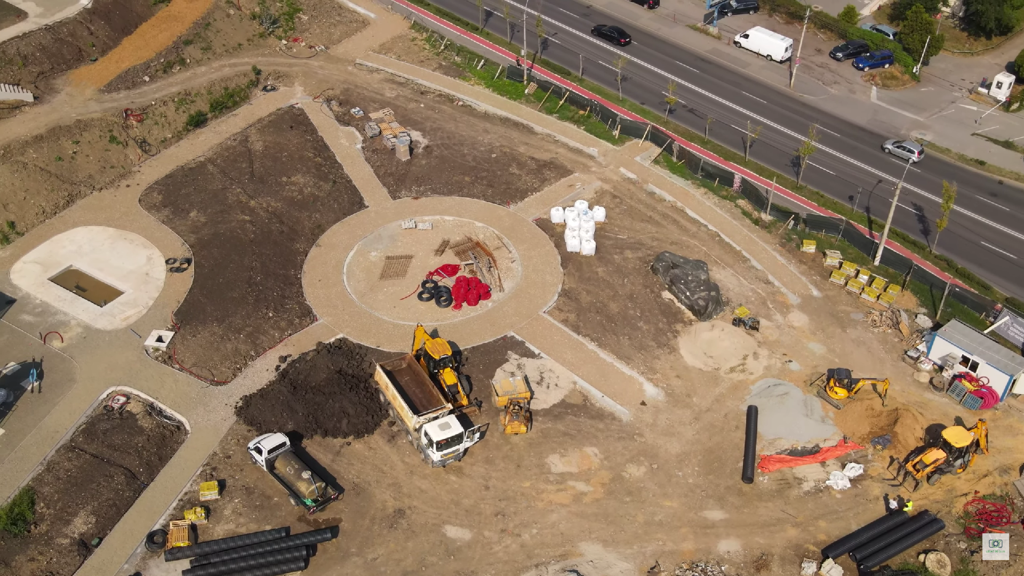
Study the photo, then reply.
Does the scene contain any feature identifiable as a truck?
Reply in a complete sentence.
Yes, there's a truck down there.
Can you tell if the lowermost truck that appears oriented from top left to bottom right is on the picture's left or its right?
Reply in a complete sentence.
The lowermost truck that appears oriented from top left to bottom right is on the left side of the image.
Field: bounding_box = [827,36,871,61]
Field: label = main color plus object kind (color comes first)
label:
black car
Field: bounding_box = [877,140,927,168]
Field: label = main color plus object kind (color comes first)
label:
gray car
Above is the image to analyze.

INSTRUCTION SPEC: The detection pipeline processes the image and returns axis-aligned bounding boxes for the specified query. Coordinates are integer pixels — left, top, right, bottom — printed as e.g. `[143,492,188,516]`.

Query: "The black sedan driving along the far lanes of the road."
[585,25,626,47]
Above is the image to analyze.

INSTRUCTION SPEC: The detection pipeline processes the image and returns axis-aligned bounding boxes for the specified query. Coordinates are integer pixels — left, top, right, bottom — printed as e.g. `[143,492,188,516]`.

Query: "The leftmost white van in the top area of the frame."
[730,25,793,63]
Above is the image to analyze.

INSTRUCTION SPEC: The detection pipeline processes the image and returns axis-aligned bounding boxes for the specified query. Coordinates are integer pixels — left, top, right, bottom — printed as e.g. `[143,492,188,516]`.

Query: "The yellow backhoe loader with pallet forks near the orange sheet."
[892,417,991,493]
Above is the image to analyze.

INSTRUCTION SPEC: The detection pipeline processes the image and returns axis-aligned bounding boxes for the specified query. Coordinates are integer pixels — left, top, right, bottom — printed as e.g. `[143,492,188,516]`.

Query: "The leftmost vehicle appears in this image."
[246,432,335,518]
